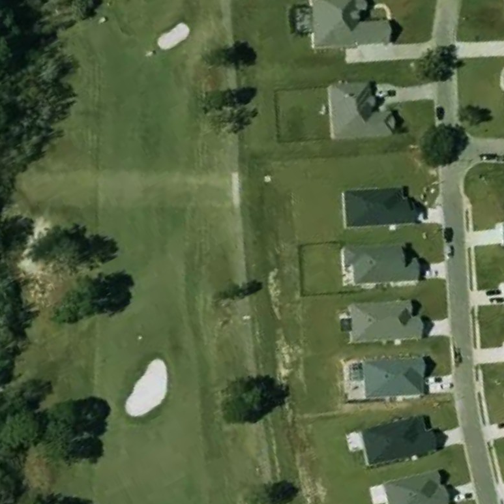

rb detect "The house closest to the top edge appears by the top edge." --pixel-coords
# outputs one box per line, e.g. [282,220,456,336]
[312,0,394,50]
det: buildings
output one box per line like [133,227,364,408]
[343,360,428,404]
[312,0,394,50]
[341,246,423,290]
[344,416,443,466]
[343,189,424,234]
[338,301,427,347]
[369,470,457,504]
[328,81,396,143]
